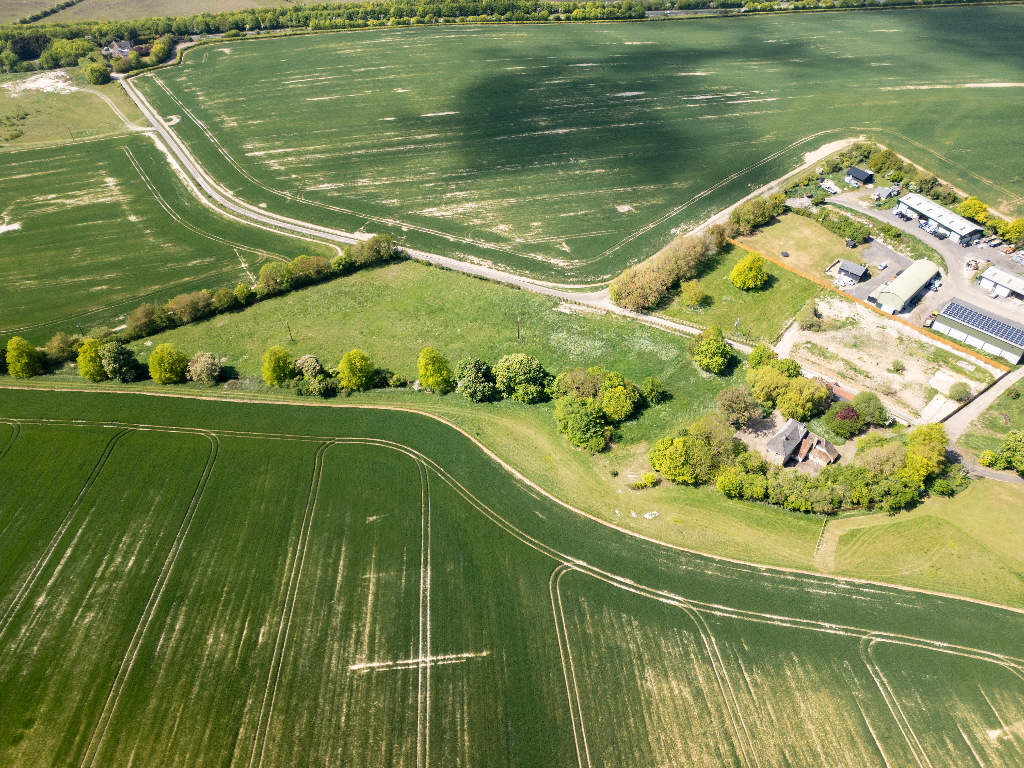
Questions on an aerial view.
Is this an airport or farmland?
farmland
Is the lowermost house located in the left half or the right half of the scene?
right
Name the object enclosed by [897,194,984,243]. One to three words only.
shed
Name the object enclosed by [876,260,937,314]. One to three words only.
barn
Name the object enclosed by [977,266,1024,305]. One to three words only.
shed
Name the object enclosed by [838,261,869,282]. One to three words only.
building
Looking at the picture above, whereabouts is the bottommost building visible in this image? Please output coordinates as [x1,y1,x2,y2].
[763,419,844,468]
